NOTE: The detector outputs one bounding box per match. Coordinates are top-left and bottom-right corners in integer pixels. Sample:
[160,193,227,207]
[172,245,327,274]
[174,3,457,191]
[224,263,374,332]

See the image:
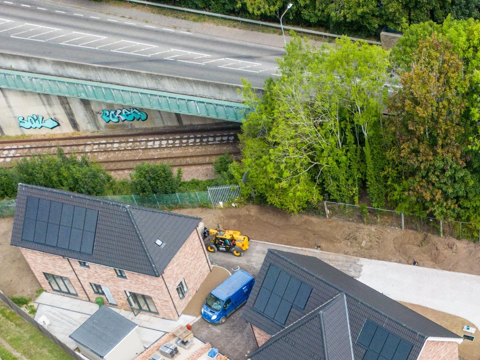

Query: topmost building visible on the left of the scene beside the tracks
[10,182,214,318]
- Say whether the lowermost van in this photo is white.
No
